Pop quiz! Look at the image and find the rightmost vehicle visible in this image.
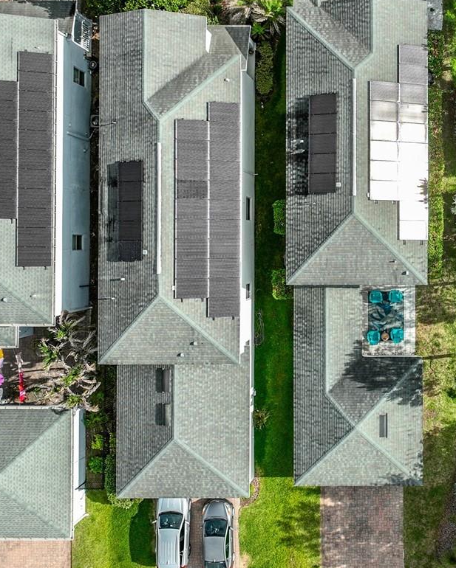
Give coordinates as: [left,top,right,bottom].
[197,498,237,568]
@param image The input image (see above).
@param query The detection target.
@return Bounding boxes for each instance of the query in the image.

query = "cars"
[154,498,194,567]
[197,498,237,568]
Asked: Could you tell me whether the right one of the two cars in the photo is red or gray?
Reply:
gray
